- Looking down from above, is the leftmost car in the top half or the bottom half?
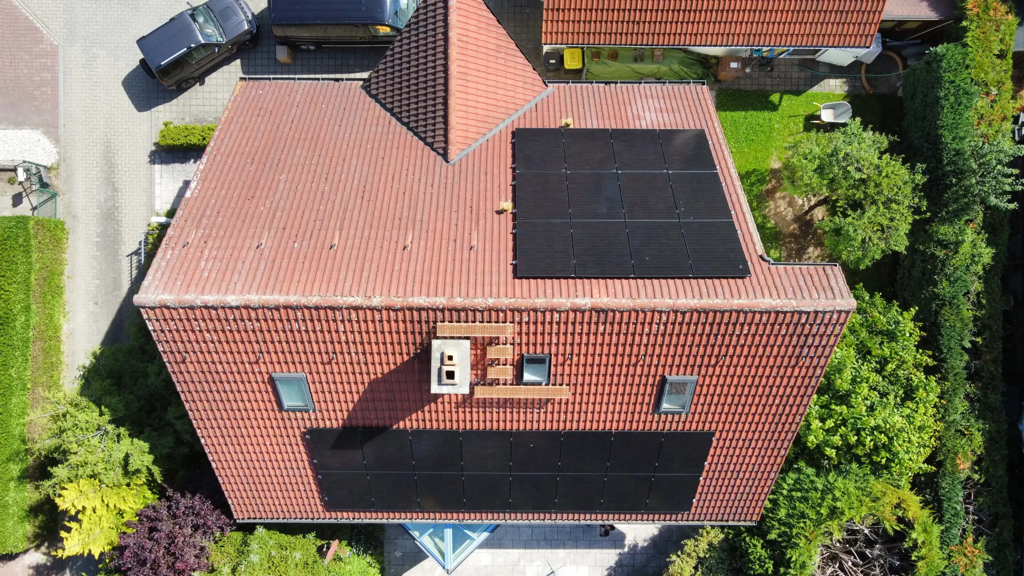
top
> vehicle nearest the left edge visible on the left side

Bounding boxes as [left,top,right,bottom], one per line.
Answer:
[133,0,264,93]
